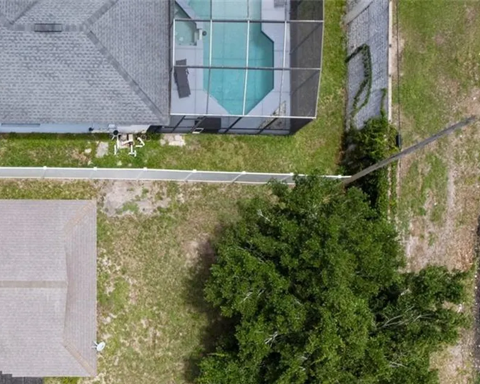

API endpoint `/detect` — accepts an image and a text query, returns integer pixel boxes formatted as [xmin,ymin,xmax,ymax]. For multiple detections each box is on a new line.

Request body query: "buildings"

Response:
[0,196,100,384]
[0,0,172,131]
